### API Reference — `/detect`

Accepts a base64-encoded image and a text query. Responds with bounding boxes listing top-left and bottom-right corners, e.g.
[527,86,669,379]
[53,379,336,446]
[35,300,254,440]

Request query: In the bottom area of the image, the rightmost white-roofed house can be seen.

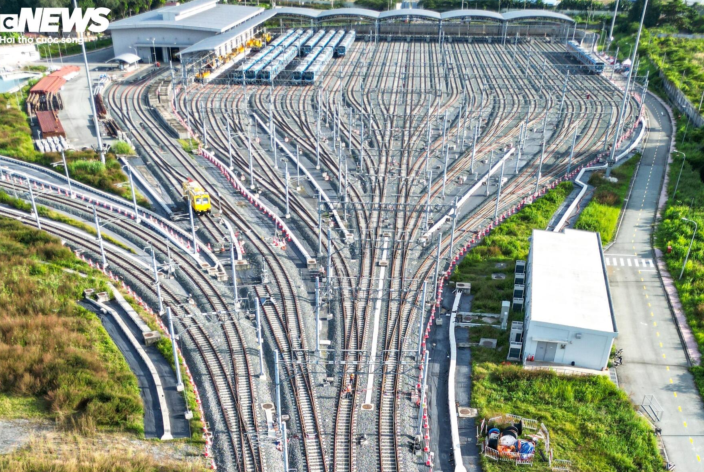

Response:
[520,231,619,379]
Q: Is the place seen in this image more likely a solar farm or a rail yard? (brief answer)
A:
rail yard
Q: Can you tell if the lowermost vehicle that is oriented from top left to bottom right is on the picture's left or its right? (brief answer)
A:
left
